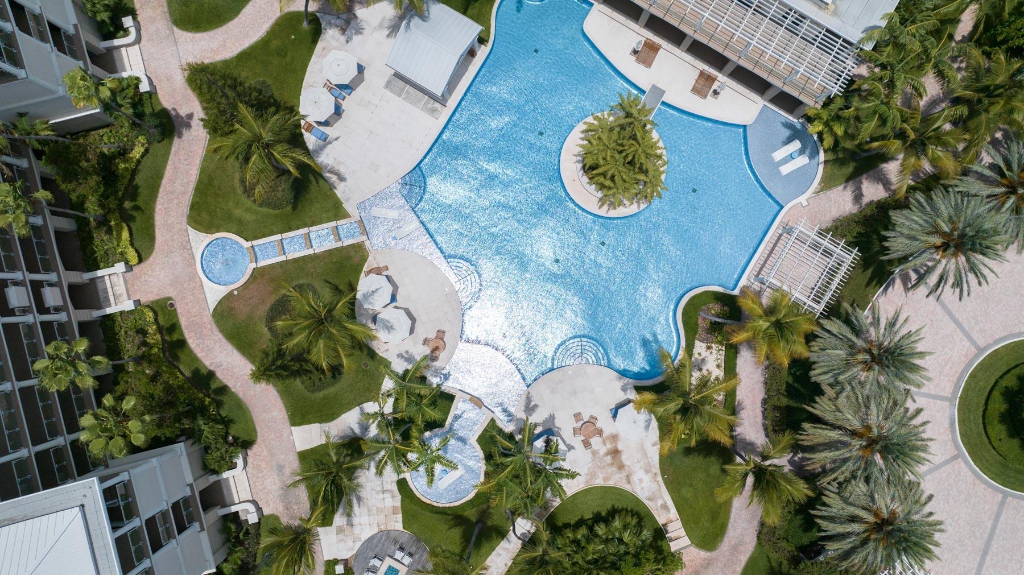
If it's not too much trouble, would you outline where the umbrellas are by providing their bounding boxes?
[360,274,395,309]
[615,402,649,438]
[629,36,644,56]
[325,53,360,88]
[378,307,412,341]
[710,80,729,98]
[301,87,337,123]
